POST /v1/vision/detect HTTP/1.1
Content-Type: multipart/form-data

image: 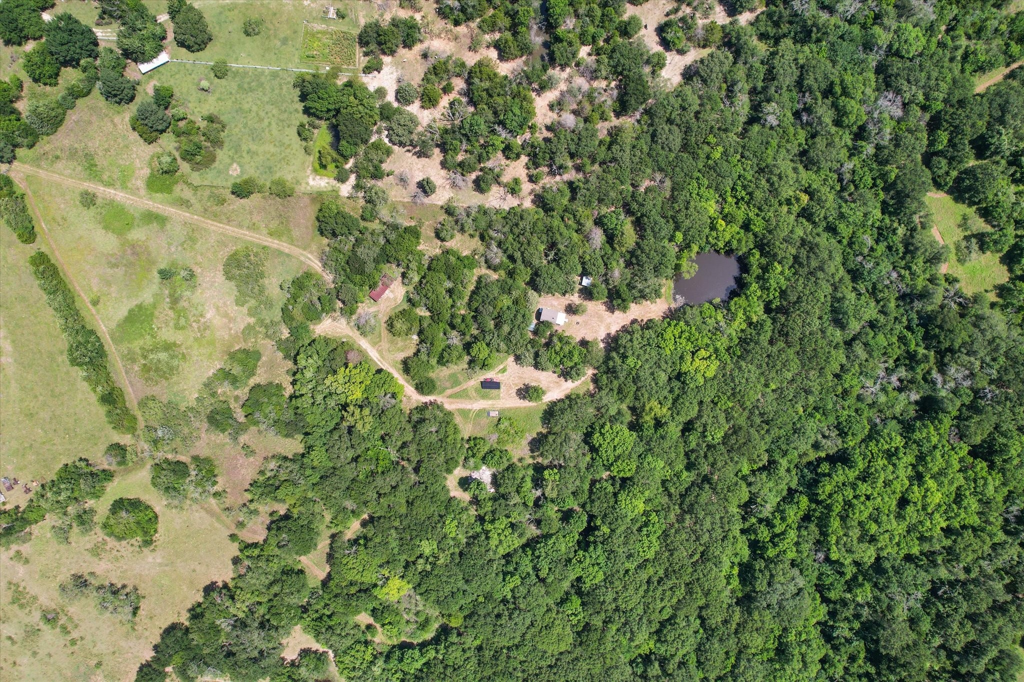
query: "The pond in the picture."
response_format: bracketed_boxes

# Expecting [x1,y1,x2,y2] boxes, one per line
[673,251,740,306]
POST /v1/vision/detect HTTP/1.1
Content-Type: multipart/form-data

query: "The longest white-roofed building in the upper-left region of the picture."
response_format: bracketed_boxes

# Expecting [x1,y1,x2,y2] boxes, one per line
[138,51,172,76]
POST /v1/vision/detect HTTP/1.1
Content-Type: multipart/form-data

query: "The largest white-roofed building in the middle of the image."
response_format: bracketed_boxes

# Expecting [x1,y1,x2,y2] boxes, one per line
[539,307,566,326]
